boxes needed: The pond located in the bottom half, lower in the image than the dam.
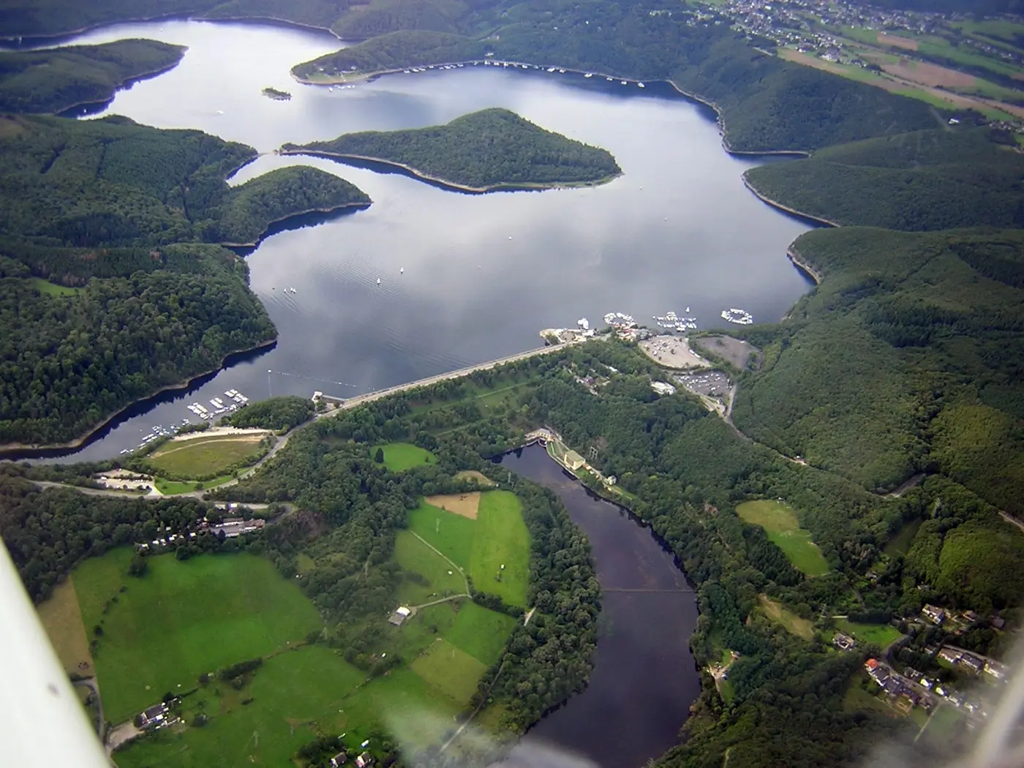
[497,441,700,768]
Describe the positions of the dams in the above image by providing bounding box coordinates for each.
[330,343,564,413]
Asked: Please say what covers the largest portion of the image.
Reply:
trees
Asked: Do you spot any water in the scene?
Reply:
Yes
